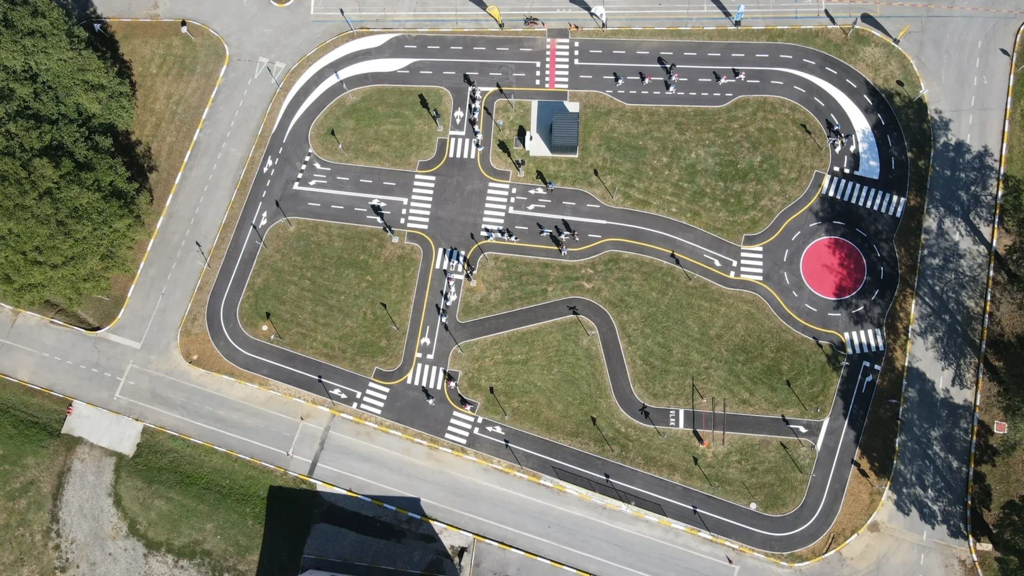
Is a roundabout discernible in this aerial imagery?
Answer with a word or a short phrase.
Yes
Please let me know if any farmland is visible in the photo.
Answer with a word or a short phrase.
No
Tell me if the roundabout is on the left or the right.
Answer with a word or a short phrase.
right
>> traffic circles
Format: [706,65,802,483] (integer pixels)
[784,221,883,316]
